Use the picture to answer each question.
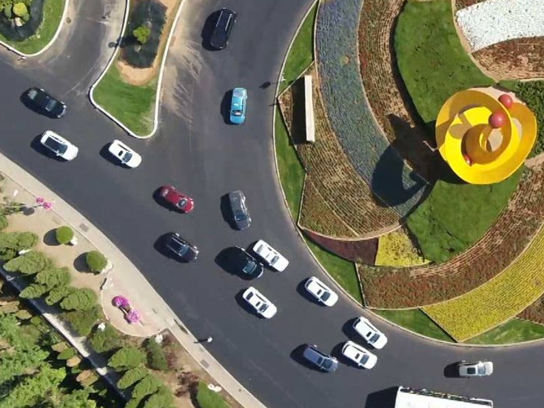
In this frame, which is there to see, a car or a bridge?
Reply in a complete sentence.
Of the two, only a car appears.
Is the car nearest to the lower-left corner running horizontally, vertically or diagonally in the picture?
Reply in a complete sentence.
The car nearest to the lower-left corner is oriented diagonally.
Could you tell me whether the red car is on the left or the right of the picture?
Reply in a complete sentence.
The red car appears in the left half of the scene.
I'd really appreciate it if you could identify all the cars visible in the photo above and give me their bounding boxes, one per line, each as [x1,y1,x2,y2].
[229,191,251,228]
[27,88,65,117]
[254,242,285,269]
[303,276,338,307]
[352,317,387,349]
[456,359,493,378]
[301,343,340,373]
[157,185,194,213]
[225,248,262,277]
[241,287,277,318]
[109,140,142,166]
[163,231,200,261]
[40,131,77,160]
[341,340,377,370]
[229,88,248,125]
